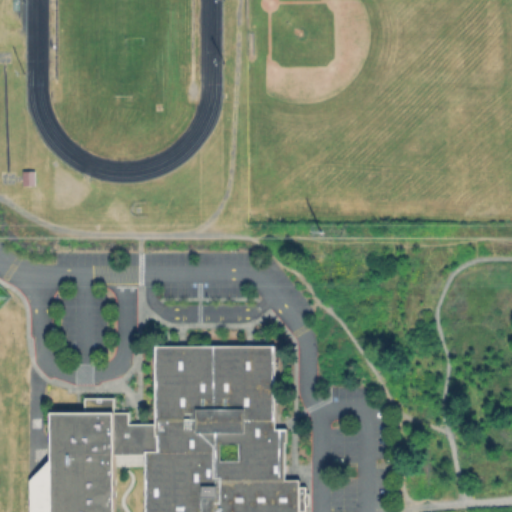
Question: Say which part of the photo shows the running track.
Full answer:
You can find the running track in the top left area of the picture.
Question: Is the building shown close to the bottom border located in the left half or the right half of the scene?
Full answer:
You can find the building shown close to the bottom border on the left side of the picture.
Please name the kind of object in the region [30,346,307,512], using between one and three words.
building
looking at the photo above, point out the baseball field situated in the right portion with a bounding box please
[250,0,512,220]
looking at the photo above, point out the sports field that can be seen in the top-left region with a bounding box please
[50,0,201,160]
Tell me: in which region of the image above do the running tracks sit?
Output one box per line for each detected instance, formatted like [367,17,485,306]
[27,0,224,182]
